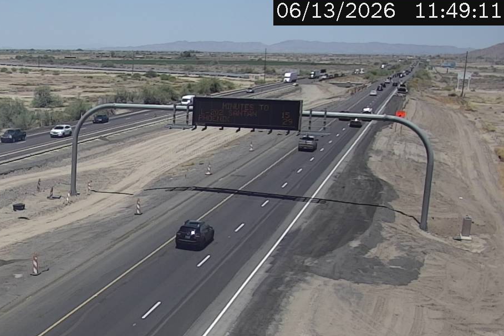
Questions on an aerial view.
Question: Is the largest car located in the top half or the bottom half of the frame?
bottom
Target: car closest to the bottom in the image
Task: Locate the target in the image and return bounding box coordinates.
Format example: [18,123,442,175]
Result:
[175,216,217,249]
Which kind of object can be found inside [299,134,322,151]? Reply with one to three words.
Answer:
vehicle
